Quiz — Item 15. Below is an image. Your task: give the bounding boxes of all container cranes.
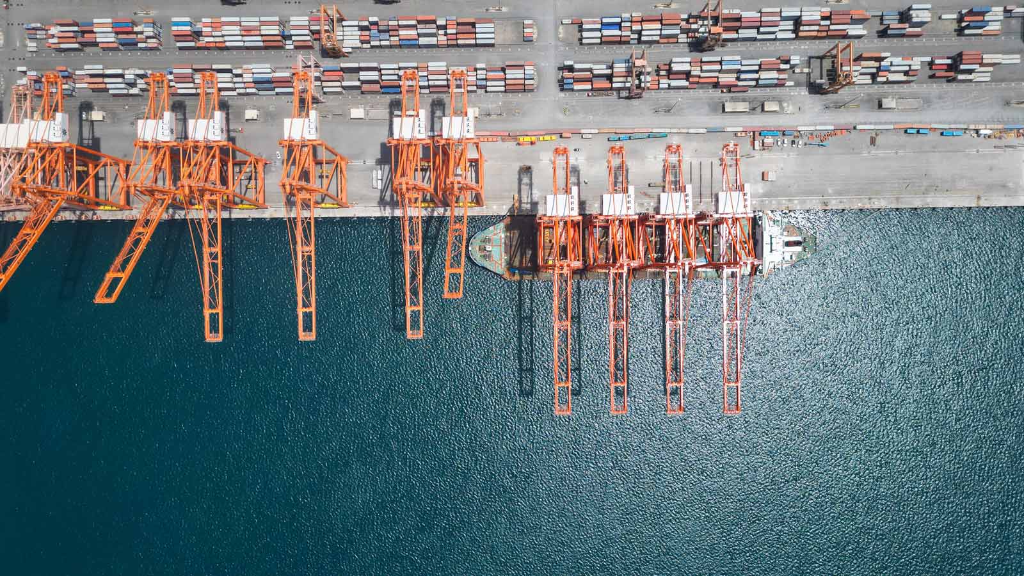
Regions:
[619,42,648,99]
[432,69,491,299]
[0,82,91,214]
[95,74,228,304]
[683,143,761,413]
[531,146,583,415]
[629,144,700,413]
[691,0,723,52]
[815,38,854,94]
[175,73,273,344]
[275,71,355,342]
[579,145,639,414]
[298,51,330,105]
[0,75,137,299]
[383,70,445,341]
[317,3,351,61]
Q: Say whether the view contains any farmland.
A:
No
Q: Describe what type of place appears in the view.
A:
port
